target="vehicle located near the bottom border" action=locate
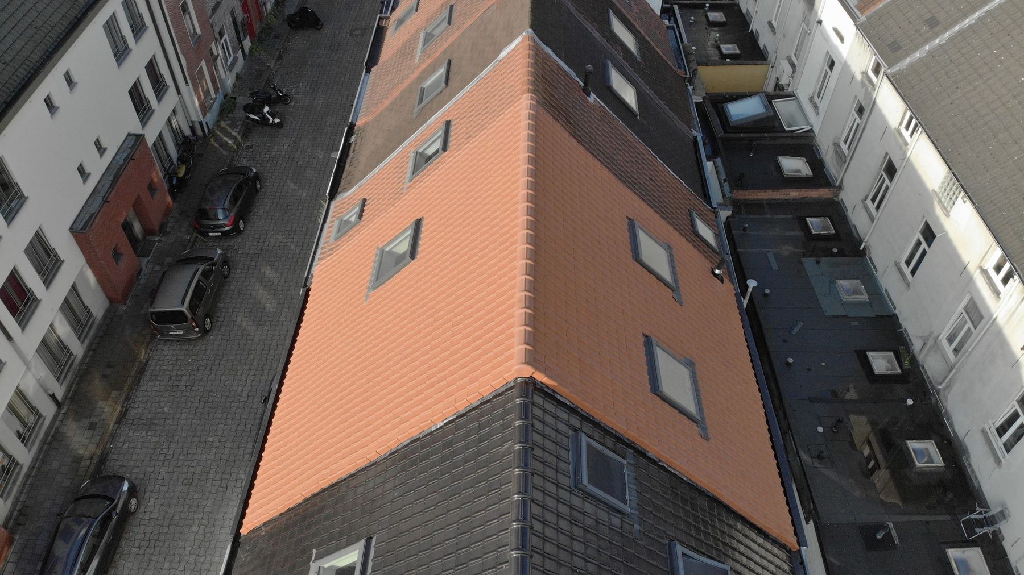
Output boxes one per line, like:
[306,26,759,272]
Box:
[23,467,140,575]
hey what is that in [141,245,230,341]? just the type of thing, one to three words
car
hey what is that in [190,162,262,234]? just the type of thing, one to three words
car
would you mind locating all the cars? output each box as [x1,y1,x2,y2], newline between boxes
[141,245,230,341]
[23,467,140,575]
[190,162,262,234]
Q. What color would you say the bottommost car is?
black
